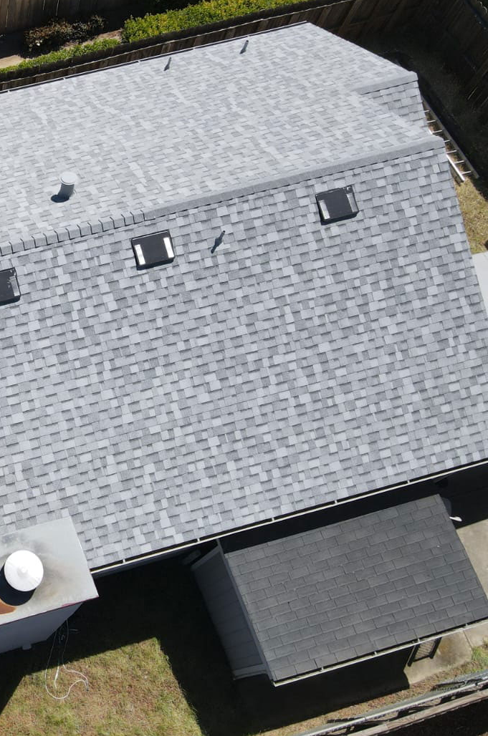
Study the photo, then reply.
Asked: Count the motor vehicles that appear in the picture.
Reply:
0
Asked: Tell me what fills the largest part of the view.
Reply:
buildings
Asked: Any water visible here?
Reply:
No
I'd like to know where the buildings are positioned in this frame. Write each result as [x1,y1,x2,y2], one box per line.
[0,18,488,651]
[199,493,488,695]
